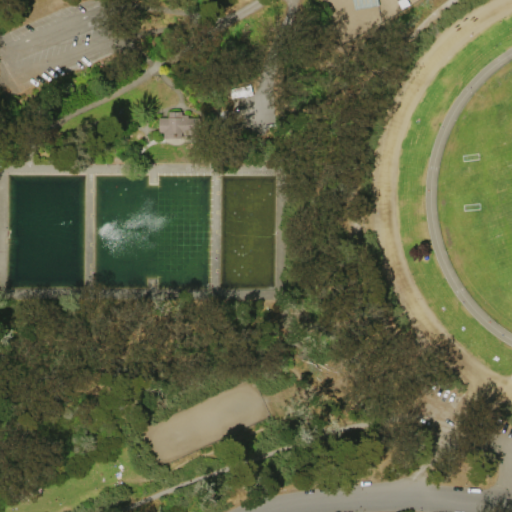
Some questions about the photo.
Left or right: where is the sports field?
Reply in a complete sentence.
The sports field is on the right side of the image.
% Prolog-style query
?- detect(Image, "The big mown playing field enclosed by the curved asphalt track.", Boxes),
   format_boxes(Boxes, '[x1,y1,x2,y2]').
[436,58,512,334]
